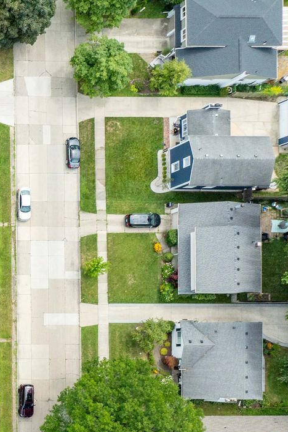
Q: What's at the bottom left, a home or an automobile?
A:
automobile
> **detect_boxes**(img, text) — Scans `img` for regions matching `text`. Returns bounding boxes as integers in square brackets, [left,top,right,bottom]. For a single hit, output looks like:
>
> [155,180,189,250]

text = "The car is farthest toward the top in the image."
[63,138,81,170]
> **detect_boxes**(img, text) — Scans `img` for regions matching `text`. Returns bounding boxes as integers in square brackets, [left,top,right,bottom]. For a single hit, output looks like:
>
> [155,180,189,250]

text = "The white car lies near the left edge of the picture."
[14,187,29,222]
